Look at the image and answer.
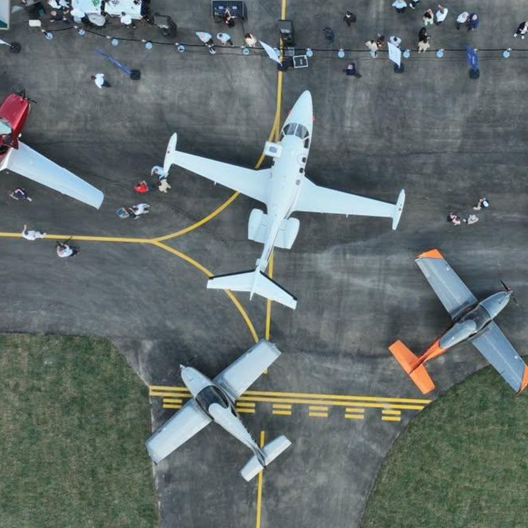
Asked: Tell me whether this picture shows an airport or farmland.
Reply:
airport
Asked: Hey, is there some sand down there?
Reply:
No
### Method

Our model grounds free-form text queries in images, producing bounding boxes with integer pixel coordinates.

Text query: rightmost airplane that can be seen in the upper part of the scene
[164,89,405,309]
